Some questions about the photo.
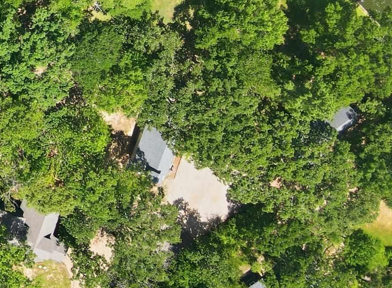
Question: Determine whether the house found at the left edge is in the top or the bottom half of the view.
bottom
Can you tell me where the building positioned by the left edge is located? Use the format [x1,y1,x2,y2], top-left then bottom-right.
[0,194,66,262]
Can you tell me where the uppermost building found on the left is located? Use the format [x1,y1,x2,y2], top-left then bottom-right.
[128,123,176,182]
